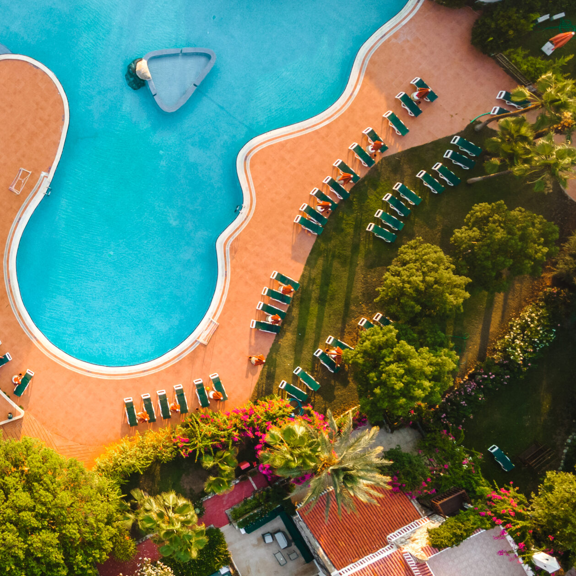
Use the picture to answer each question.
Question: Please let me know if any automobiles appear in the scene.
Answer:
No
